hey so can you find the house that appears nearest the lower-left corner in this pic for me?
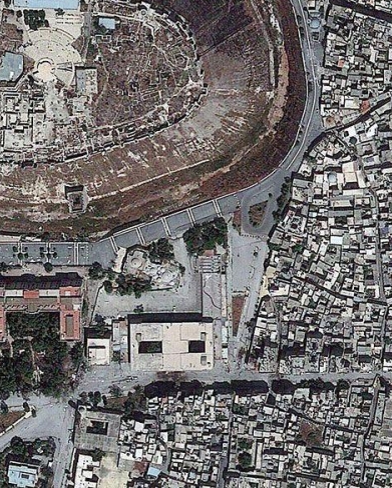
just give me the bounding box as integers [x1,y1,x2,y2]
[8,460,40,487]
